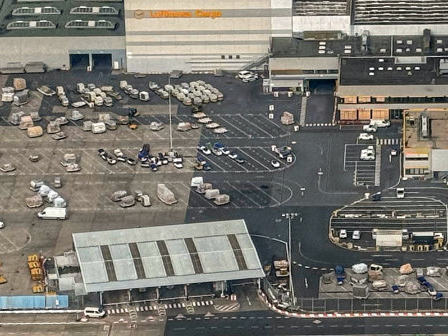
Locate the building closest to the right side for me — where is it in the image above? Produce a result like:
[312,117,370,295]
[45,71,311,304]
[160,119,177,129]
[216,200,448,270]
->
[402,103,448,180]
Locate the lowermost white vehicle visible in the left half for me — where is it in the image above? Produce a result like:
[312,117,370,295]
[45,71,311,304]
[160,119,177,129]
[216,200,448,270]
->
[81,306,106,318]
